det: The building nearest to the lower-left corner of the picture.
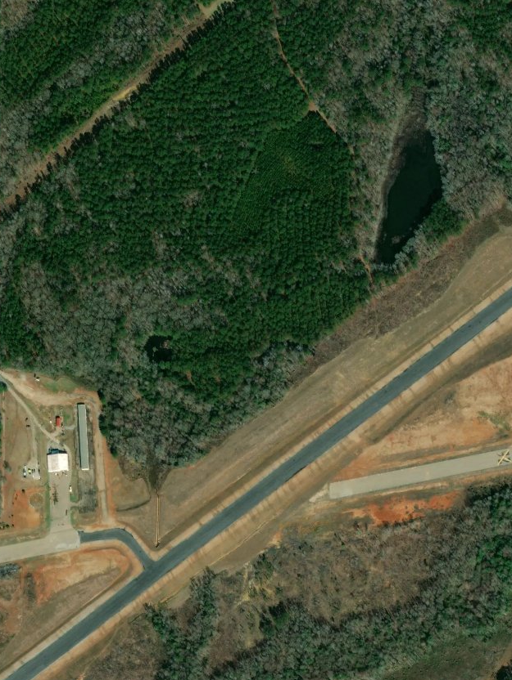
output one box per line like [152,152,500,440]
[47,452,70,473]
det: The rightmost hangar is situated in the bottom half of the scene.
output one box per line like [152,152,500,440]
[78,404,90,470]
